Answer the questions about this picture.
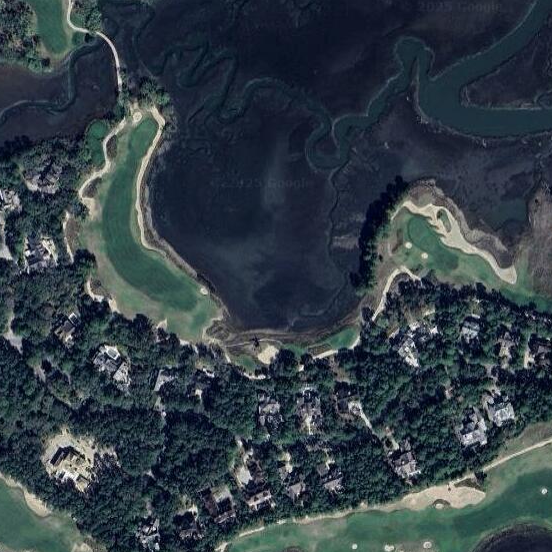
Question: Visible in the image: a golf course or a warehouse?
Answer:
golf course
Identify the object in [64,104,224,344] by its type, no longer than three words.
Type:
golf course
